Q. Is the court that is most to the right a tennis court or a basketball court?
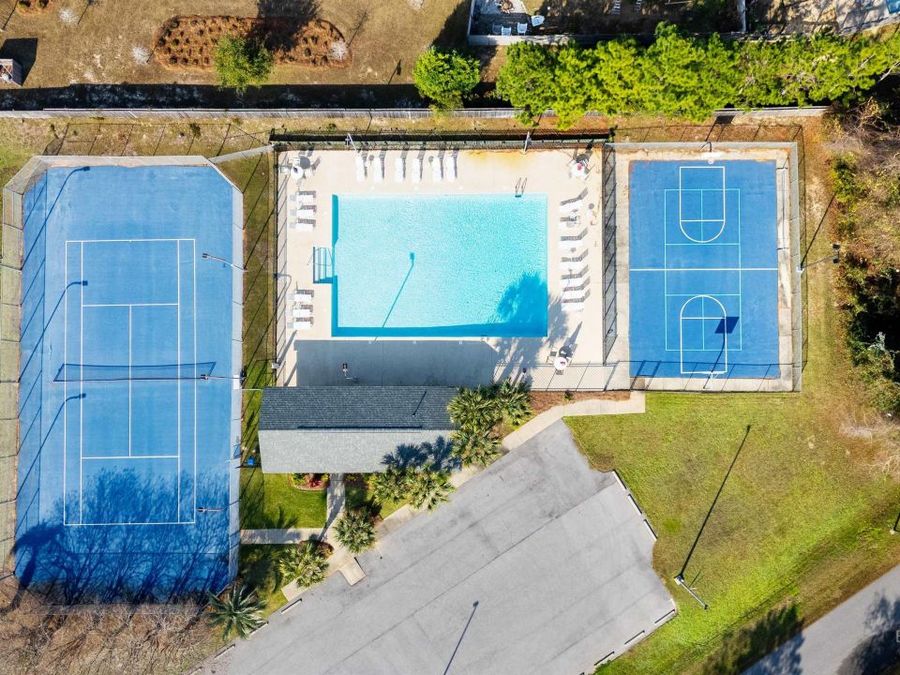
basketball court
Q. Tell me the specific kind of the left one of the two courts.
tennis court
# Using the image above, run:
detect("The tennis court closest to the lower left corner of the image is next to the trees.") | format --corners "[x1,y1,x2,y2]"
[14,167,243,605]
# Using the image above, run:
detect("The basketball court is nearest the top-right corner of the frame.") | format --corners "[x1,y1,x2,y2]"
[604,149,792,392]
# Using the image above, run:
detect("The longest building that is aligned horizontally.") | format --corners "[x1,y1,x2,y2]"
[258,388,460,473]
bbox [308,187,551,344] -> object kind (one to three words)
swimming pool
